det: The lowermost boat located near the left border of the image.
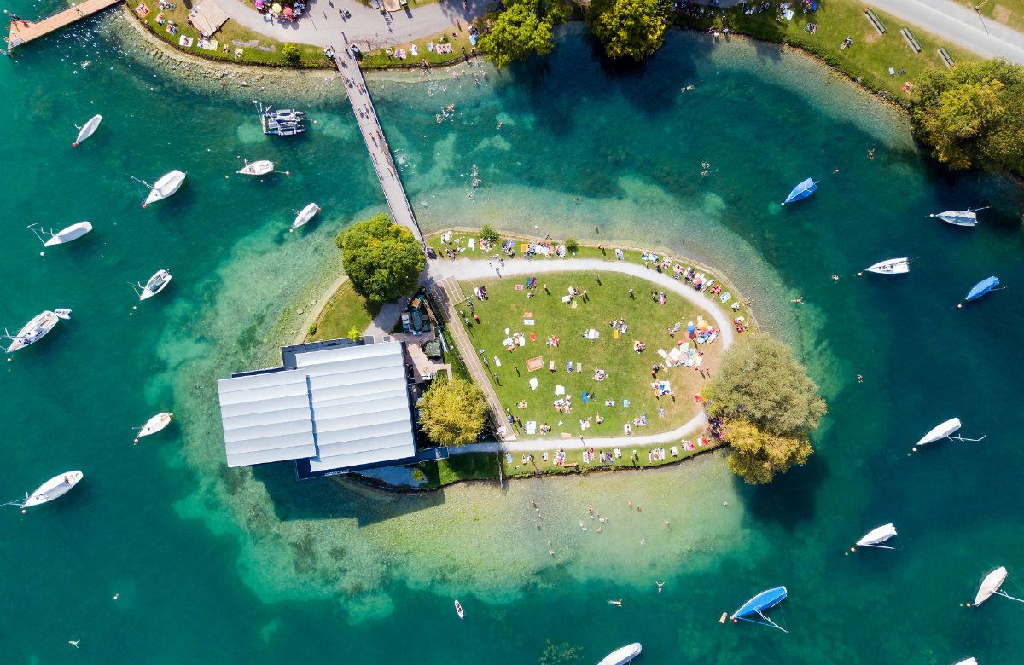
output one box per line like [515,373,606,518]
[1,469,88,510]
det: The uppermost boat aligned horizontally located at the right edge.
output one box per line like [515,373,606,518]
[935,200,991,226]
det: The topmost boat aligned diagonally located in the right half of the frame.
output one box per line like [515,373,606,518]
[784,178,820,204]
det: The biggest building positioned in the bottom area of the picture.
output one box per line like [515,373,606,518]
[218,334,448,481]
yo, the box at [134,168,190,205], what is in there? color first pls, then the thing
white boat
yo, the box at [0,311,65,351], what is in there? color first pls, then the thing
white boat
